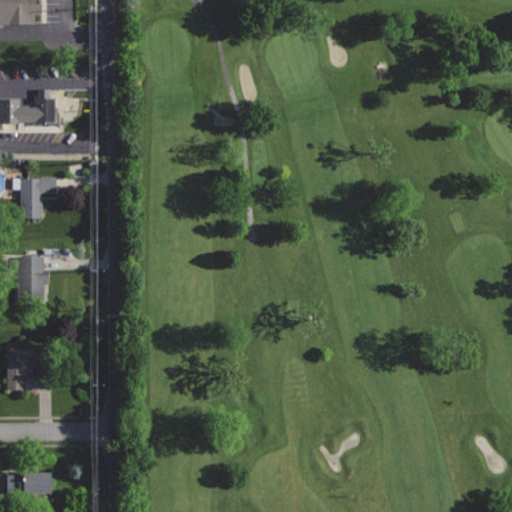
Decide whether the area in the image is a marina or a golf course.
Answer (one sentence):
The area seen from above is a golf course.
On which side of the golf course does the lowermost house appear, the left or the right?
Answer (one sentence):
The golf course has the lowermost house on its left side.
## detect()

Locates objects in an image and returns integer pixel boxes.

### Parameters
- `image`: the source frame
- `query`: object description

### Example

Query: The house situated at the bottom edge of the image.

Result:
[6,472,52,496]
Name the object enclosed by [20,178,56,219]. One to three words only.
house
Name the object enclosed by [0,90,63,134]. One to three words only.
building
